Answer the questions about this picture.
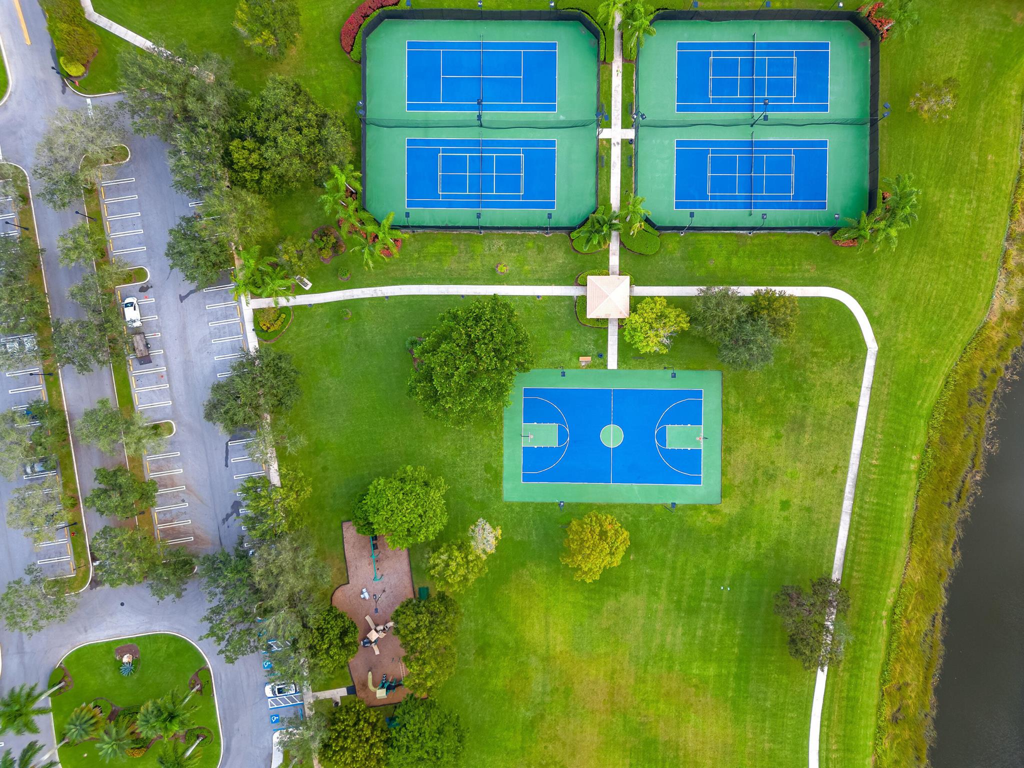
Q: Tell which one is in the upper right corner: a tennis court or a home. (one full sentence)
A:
Visible in the upper right corner is a tennis court.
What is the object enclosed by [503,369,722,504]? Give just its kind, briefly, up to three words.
basketball court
